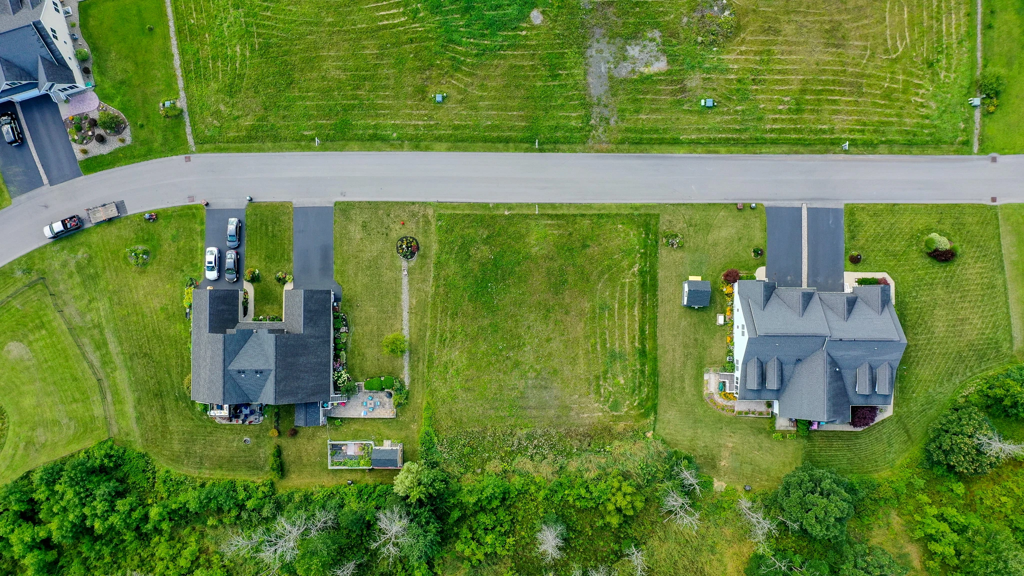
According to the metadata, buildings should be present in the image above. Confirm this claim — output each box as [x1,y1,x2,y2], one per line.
[680,281,711,310]
[369,443,403,469]
[734,280,907,422]
[191,289,333,405]
[0,0,86,121]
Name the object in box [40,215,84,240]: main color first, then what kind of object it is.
white truck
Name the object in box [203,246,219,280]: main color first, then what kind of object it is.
white car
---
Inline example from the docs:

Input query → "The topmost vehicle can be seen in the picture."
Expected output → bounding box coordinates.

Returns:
[0,110,22,145]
